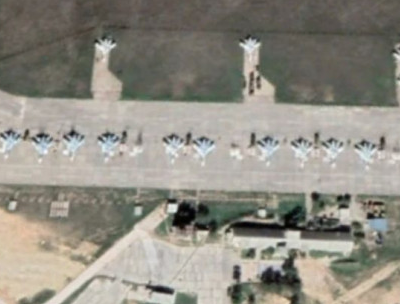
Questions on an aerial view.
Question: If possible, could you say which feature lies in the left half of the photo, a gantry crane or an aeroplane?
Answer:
aeroplane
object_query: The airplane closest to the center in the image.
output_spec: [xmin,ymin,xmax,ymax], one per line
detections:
[194,138,215,164]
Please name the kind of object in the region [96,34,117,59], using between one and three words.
airplane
